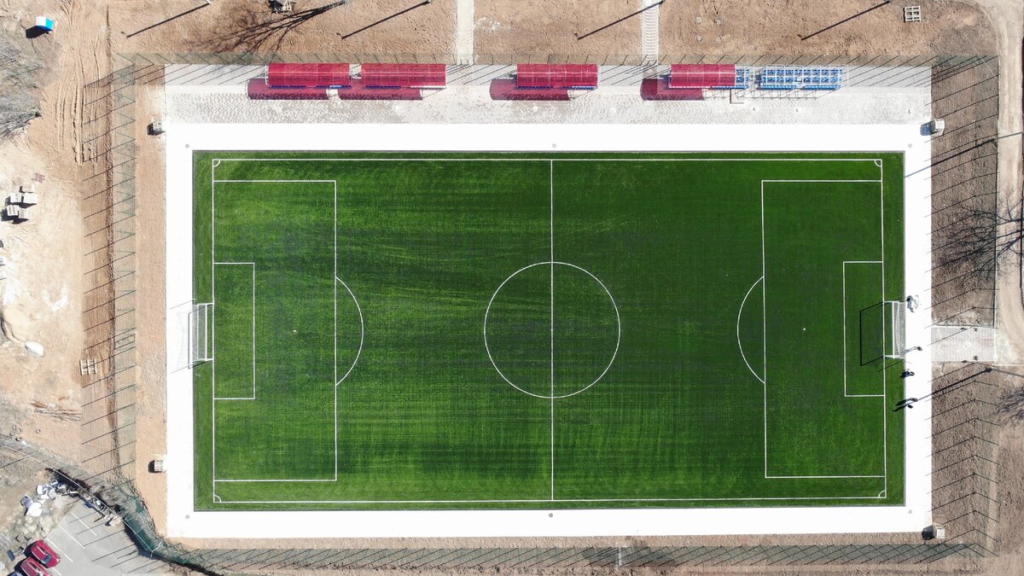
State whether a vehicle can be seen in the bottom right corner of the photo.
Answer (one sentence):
No, looking in the bottom right corner of the photo, there is no vehicle.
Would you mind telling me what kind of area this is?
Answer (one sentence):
This image shows a sports ground.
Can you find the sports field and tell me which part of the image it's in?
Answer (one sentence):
Look in the center portion of the view to spot the sports field.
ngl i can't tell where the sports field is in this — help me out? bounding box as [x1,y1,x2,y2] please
[193,151,906,512]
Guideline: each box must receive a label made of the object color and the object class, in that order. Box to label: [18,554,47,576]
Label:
red car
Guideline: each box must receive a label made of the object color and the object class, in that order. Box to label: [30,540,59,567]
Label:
red car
